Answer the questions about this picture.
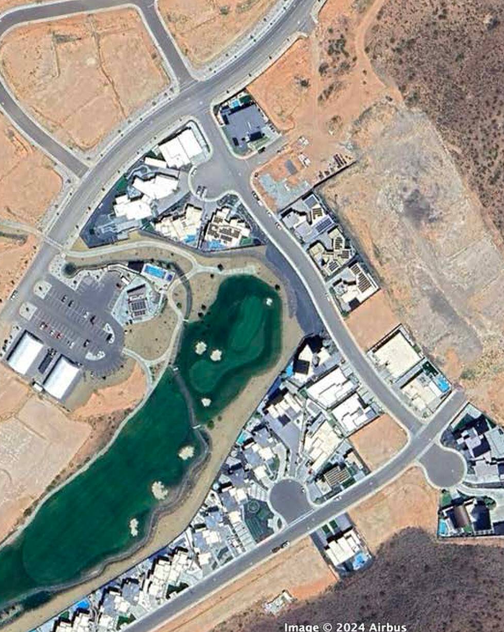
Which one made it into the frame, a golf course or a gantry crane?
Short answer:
golf course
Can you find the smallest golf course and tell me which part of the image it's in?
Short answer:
center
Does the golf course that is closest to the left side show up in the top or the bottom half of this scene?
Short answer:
bottom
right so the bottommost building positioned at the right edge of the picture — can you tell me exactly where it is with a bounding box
[442,500,504,535]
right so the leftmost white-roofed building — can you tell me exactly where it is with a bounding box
[7,332,43,375]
